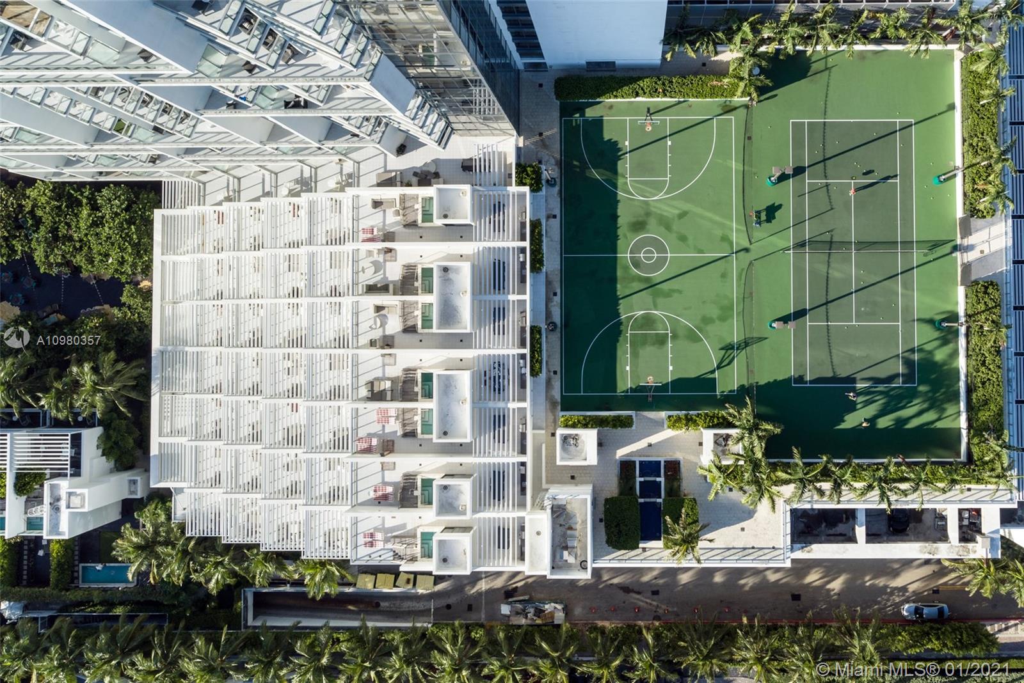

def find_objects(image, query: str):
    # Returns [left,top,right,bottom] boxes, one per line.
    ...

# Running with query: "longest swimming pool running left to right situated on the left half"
[79,565,136,586]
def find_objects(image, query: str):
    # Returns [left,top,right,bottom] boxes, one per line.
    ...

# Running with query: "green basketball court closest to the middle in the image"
[561,101,749,413]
